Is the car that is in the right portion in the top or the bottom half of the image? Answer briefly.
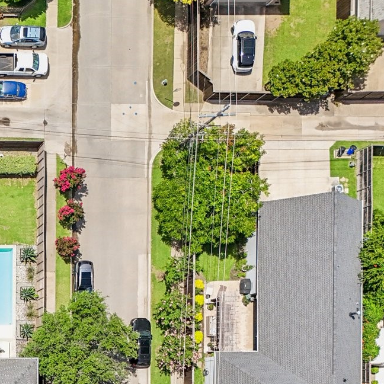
top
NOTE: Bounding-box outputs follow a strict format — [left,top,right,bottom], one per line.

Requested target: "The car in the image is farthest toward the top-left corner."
[0,26,45,52]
